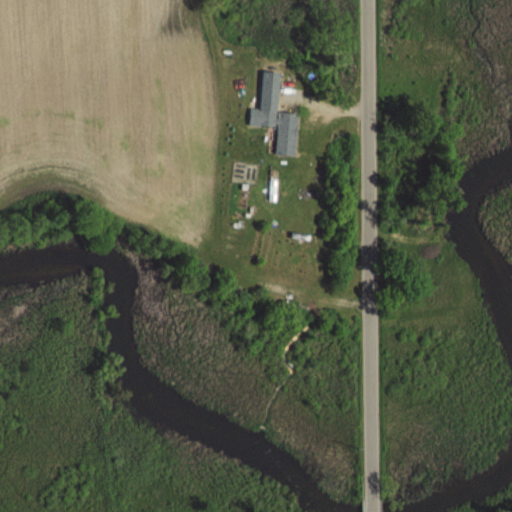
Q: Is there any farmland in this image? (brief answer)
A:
Yes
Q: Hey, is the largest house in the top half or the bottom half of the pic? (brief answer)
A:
top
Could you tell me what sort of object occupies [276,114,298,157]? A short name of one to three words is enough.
building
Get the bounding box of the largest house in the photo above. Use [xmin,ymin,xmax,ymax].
[248,70,282,127]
